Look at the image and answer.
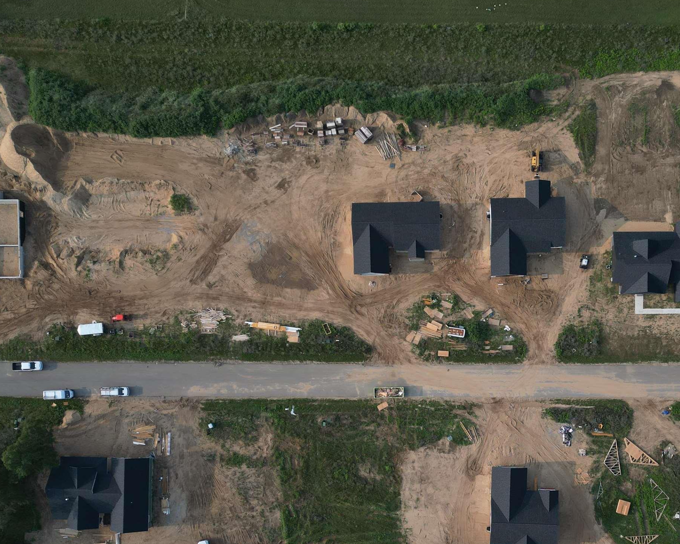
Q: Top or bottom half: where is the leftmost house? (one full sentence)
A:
Seen from above, the leftmost house lies in the bottom half of the view.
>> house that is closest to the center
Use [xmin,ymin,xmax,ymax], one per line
[349,202,444,274]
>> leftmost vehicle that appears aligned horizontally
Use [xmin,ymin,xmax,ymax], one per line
[12,359,44,373]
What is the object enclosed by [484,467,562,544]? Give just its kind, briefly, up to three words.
house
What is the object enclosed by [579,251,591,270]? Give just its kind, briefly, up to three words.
vehicle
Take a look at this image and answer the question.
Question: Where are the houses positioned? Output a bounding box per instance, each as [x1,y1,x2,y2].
[484,176,567,276]
[605,219,680,301]
[349,202,444,274]
[44,457,153,536]
[484,467,562,544]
